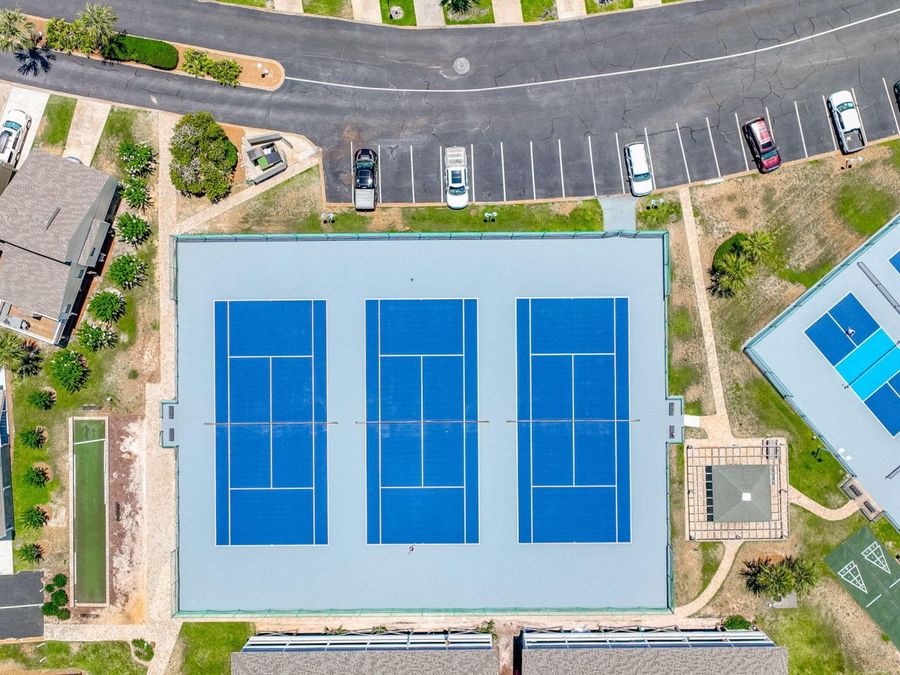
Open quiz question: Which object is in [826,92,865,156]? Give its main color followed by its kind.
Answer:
white truck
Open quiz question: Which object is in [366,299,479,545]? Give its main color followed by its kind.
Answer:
blue tennis court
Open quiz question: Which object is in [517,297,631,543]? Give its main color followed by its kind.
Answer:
blue tennis court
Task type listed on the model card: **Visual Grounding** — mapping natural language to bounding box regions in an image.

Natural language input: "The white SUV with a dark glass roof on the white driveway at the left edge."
[0,112,33,164]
